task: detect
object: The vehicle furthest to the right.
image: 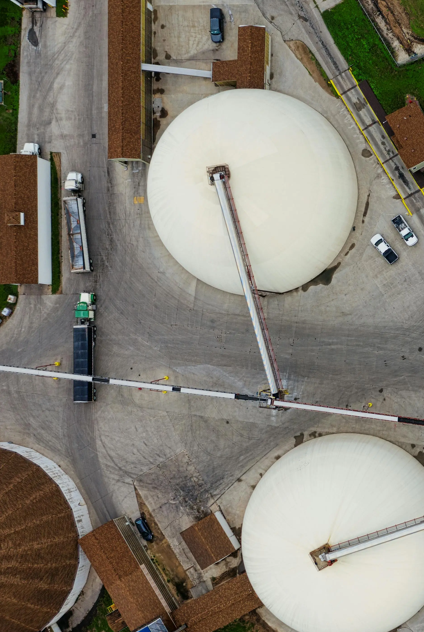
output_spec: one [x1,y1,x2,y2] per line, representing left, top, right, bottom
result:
[391,213,417,245]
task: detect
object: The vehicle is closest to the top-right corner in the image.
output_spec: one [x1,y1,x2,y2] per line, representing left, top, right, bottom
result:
[208,7,223,40]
